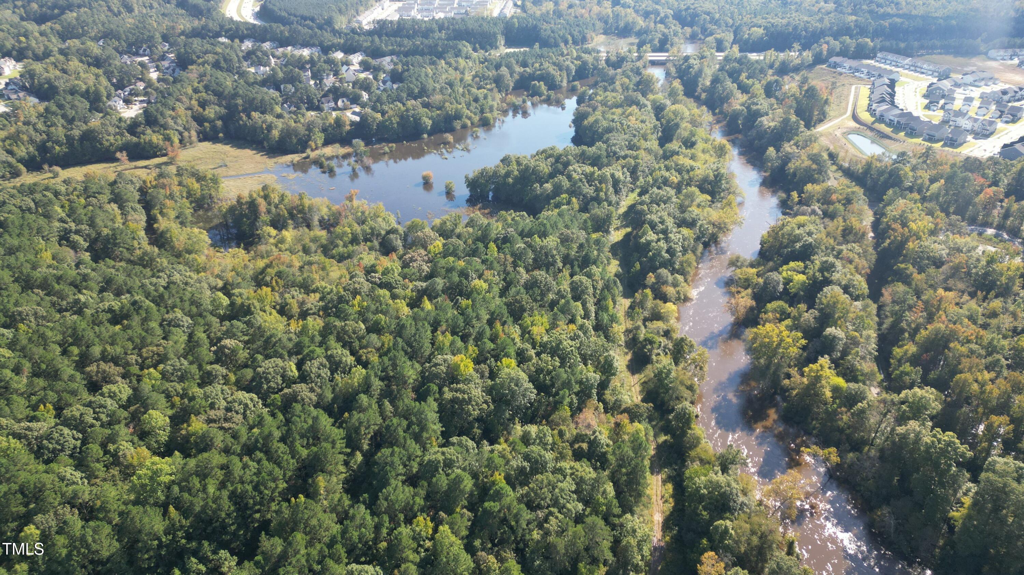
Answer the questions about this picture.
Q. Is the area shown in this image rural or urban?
rural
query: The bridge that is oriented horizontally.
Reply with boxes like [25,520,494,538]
[596,51,791,65]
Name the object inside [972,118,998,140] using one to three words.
house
